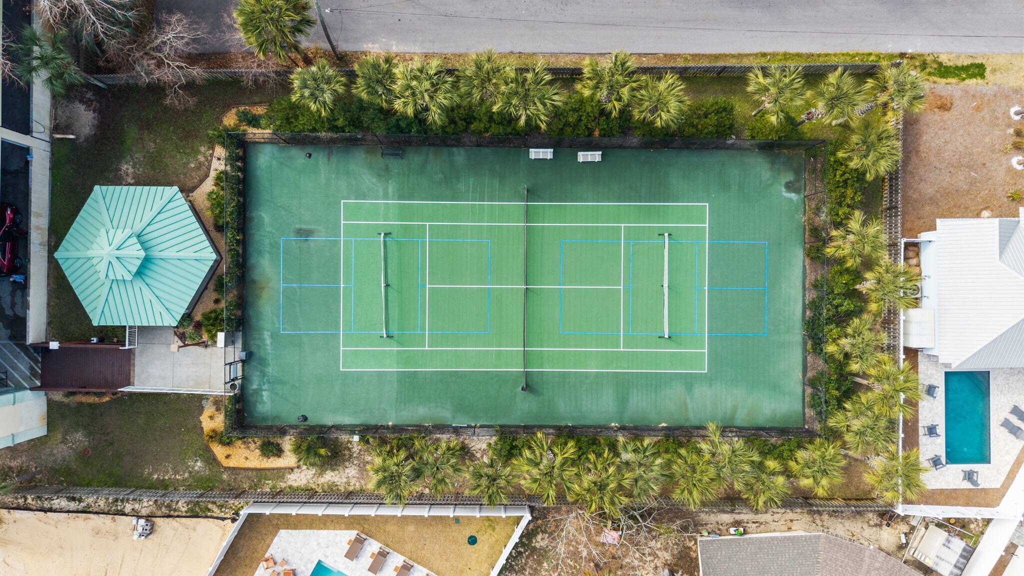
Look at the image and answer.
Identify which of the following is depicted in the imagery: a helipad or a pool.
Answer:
pool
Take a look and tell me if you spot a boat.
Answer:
No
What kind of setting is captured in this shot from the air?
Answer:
sports ground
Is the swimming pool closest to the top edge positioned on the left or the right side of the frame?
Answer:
right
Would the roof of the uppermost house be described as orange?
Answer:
No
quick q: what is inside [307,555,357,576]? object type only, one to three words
swimming pool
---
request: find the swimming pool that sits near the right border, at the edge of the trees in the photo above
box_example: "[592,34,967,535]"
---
[943,367,993,469]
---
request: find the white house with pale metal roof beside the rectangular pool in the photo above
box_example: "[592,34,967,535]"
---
[918,207,1024,370]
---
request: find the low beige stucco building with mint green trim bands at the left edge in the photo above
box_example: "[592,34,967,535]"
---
[0,390,50,446]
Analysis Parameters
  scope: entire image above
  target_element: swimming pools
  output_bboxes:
[943,367,993,469]
[307,555,357,576]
